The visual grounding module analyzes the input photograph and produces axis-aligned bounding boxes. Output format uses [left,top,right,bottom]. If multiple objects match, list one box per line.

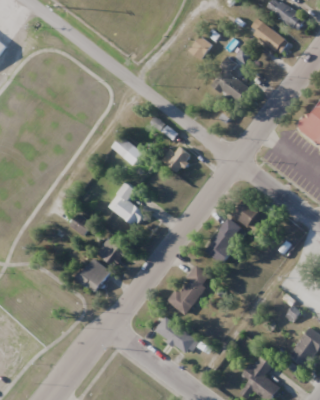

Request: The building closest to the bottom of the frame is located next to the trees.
[240,358,280,398]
